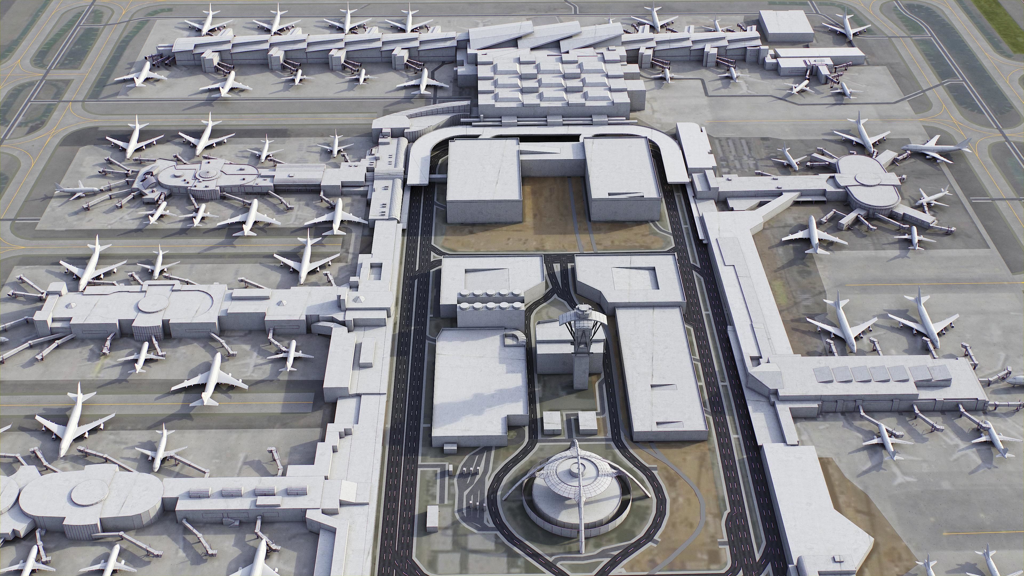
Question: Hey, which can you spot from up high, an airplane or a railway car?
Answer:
airplane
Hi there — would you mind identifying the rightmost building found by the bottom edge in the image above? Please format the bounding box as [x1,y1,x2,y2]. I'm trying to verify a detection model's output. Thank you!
[761,443,875,576]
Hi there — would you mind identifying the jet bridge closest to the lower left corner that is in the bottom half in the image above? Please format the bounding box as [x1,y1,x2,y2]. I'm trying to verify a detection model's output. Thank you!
[37,529,54,566]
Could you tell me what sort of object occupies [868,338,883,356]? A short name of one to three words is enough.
jet bridge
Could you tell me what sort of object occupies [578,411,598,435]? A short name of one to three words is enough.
building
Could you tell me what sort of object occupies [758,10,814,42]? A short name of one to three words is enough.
hangar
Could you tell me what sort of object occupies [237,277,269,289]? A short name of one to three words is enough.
jet bridge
